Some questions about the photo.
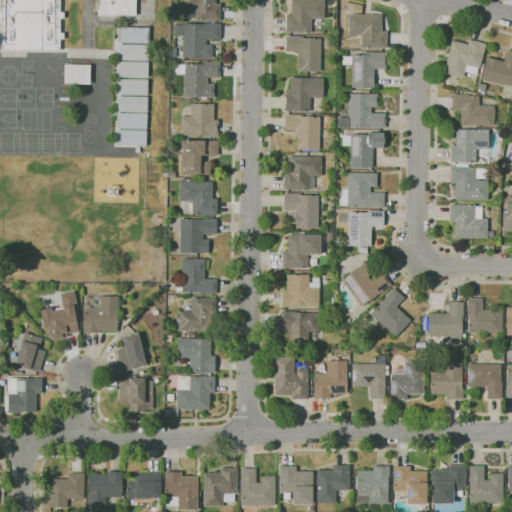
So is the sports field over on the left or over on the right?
left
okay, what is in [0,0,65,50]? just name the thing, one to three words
building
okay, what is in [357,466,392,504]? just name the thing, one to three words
house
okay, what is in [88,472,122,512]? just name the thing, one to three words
house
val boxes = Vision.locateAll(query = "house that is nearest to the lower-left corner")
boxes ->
[48,473,84,510]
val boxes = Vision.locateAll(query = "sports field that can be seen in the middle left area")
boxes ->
[0,154,148,280]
